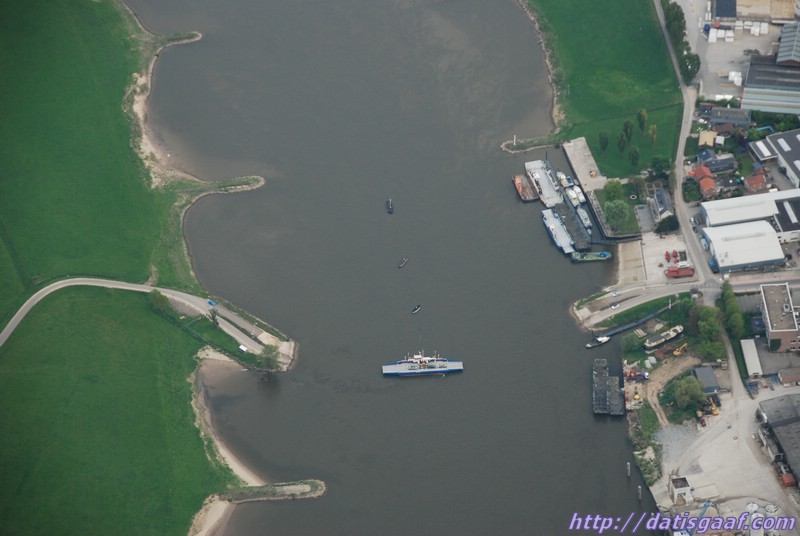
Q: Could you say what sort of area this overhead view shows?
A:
port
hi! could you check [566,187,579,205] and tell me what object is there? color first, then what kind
white boat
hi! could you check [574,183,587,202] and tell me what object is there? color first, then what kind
white boat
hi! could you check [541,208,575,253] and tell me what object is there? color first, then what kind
white ship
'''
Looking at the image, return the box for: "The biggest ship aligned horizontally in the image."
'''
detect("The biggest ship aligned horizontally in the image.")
[382,348,464,377]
